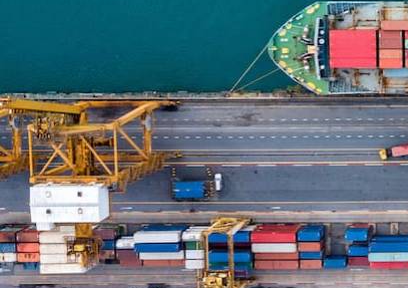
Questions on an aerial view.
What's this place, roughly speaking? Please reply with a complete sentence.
What you see here is a port.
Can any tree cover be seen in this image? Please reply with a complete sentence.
No, the scene doesn't show any tree cover.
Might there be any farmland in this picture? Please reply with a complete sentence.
No, no farmland is visible.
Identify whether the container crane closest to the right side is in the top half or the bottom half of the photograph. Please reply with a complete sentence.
The container crane closest to the right side is in the bottom half of the image.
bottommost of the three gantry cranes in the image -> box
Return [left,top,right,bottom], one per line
[200,218,252,288]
